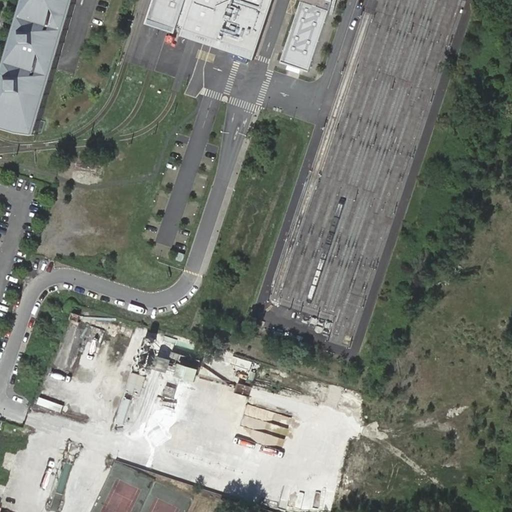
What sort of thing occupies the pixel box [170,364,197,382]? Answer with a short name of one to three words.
shed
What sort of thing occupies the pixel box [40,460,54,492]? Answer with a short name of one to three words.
vehicle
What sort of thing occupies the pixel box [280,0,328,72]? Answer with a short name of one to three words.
building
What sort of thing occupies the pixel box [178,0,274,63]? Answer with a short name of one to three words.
building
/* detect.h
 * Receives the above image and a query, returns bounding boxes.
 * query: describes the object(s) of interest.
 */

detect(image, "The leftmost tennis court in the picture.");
[90,461,156,512]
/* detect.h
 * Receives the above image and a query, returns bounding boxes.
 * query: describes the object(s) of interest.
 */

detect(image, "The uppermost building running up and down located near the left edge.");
[0,0,70,135]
